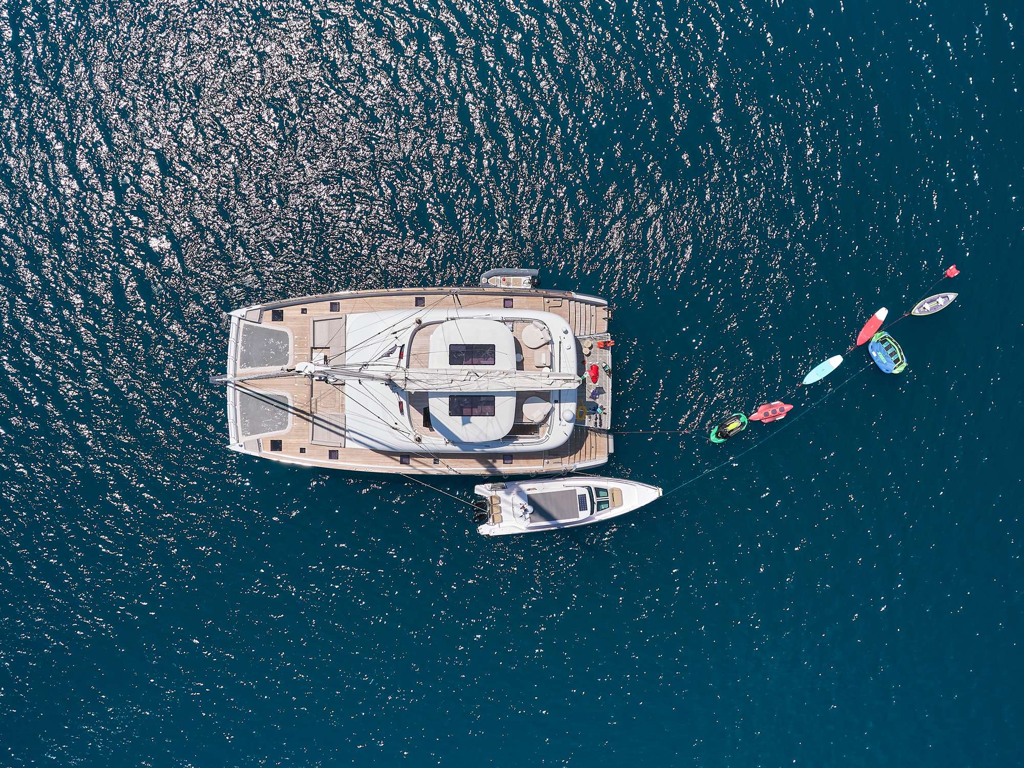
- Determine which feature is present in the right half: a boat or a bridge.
boat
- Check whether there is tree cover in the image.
No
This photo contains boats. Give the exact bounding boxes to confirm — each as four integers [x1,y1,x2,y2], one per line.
[209,288,614,474]
[473,476,663,536]
[911,293,957,315]
[480,268,540,289]
[708,411,750,444]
